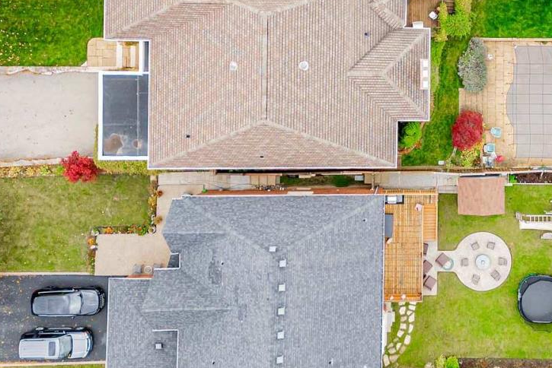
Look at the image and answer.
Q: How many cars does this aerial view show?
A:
2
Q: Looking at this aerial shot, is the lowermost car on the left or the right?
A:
left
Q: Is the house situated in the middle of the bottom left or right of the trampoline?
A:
on the left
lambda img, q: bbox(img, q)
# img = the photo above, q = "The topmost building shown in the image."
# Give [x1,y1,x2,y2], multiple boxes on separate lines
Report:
[99,0,432,170]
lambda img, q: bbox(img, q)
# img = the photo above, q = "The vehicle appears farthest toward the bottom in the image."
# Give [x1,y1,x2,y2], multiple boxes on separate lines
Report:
[15,324,96,363]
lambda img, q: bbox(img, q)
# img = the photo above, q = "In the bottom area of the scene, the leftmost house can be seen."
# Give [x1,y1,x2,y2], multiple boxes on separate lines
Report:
[106,188,384,368]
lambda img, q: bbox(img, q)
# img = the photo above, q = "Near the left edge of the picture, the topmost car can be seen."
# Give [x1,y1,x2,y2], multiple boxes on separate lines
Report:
[27,283,107,322]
